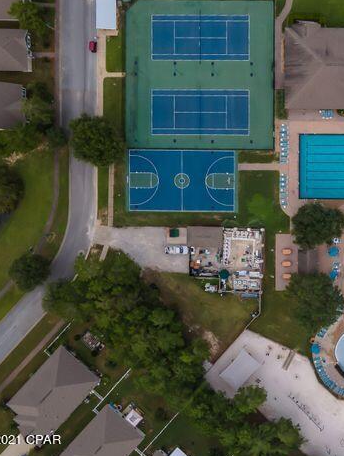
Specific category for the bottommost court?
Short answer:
basketball court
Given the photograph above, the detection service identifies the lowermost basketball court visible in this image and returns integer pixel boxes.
[127,150,237,212]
